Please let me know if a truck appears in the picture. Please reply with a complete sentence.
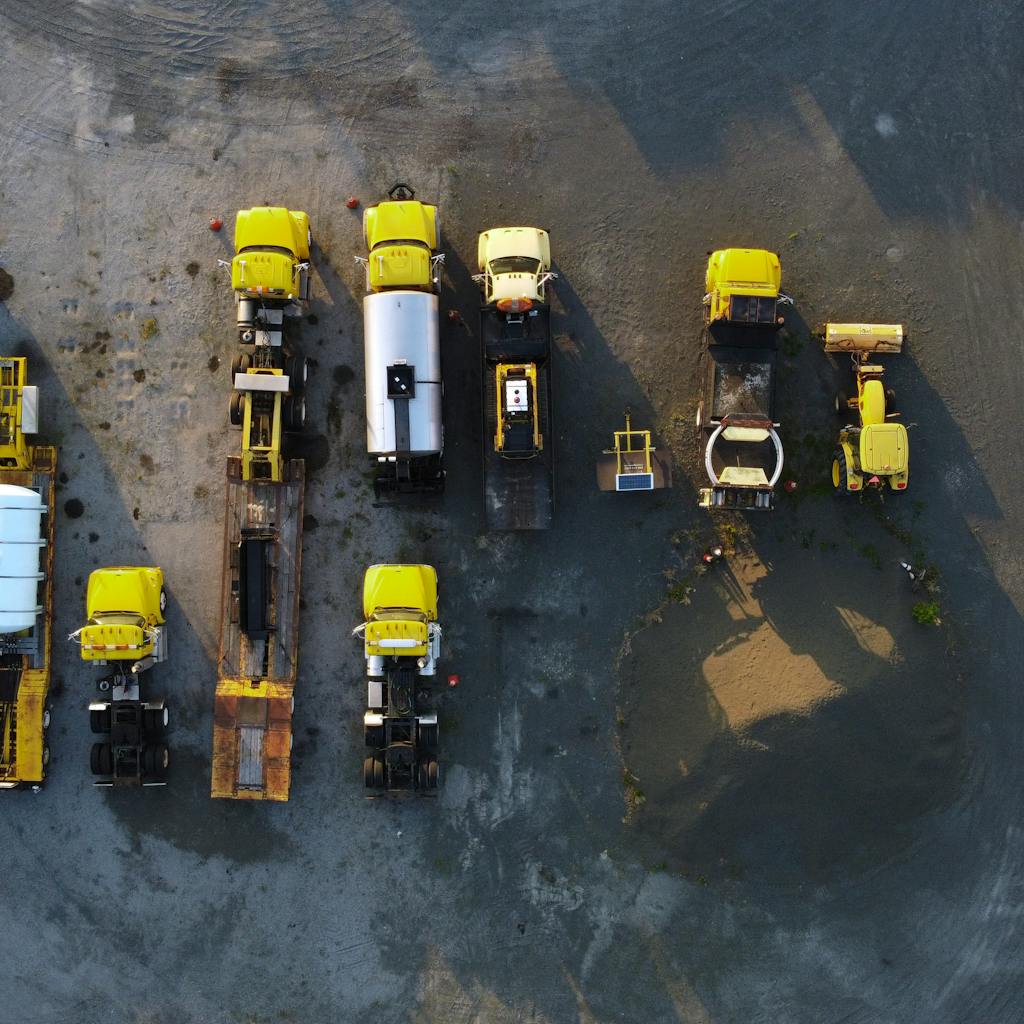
Yes, the image includes a truck.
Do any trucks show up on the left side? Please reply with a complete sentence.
Yes, a truck can be seen on the left side.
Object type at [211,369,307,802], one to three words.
trailer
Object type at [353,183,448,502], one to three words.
truck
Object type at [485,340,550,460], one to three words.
work vehicle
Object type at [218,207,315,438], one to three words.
truck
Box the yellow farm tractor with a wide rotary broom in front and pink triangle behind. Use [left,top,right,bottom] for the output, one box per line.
[820,326,919,497]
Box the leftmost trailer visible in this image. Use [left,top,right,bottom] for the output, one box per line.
[0,356,60,789]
